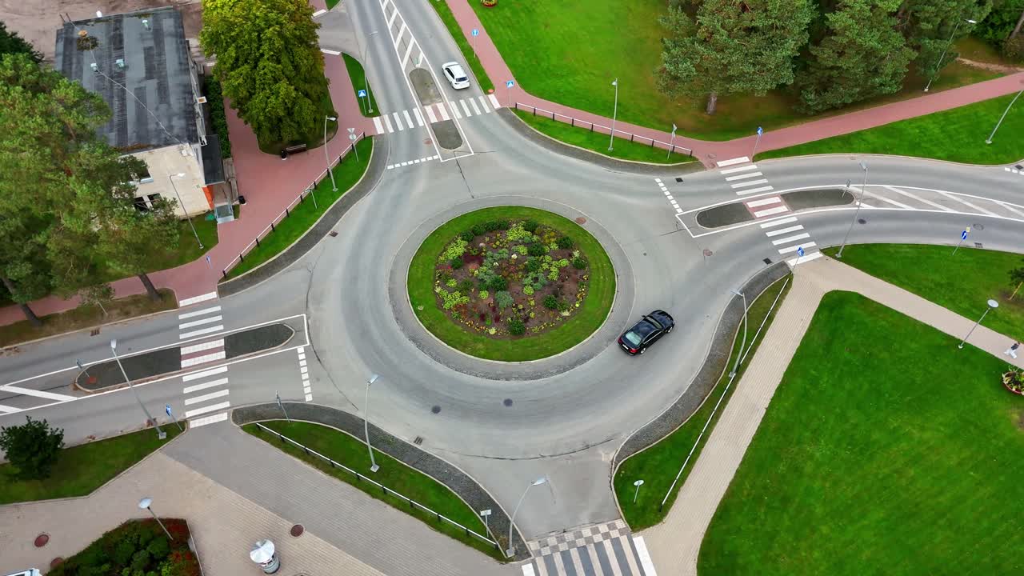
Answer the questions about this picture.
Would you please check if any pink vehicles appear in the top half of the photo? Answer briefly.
No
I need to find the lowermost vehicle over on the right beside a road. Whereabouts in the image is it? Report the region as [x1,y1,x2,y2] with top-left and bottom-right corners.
[618,308,677,356]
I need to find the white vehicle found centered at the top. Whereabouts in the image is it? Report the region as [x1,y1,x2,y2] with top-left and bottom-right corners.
[443,61,470,89]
